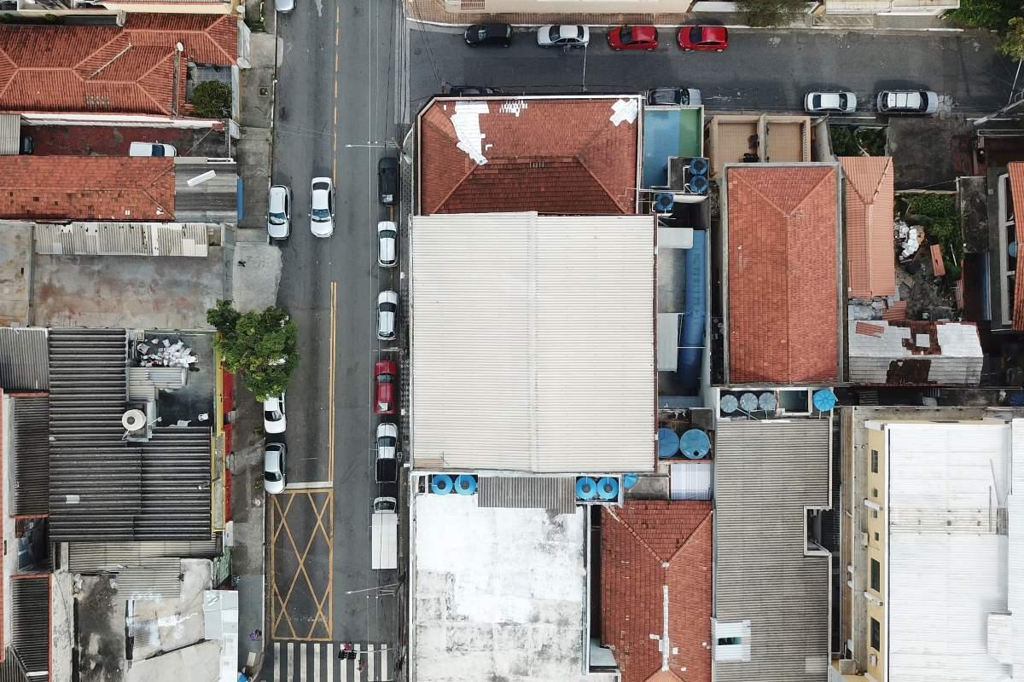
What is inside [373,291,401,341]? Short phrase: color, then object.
white car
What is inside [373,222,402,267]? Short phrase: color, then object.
white car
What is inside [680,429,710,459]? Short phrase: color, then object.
blue water tank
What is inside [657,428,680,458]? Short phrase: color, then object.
blue water tank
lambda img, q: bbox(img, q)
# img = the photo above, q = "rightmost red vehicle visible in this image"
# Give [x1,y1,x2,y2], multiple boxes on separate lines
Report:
[676,23,729,54]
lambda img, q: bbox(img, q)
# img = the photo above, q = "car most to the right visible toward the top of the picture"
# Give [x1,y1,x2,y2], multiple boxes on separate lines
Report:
[874,86,937,117]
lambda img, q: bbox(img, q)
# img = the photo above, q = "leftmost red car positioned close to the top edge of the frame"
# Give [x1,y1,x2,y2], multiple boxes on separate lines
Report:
[606,23,659,53]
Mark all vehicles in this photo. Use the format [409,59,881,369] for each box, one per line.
[263,185,294,242]
[802,87,856,117]
[465,19,513,50]
[373,291,401,341]
[874,86,937,117]
[274,0,299,15]
[373,423,401,484]
[645,83,702,105]
[374,157,403,207]
[307,177,337,239]
[0,134,37,156]
[537,20,589,52]
[373,222,402,267]
[124,137,179,157]
[334,651,360,664]
[260,442,290,494]
[368,494,402,573]
[676,23,729,54]
[606,23,659,53]
[371,359,399,415]
[260,377,290,434]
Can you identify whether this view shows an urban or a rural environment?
urban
